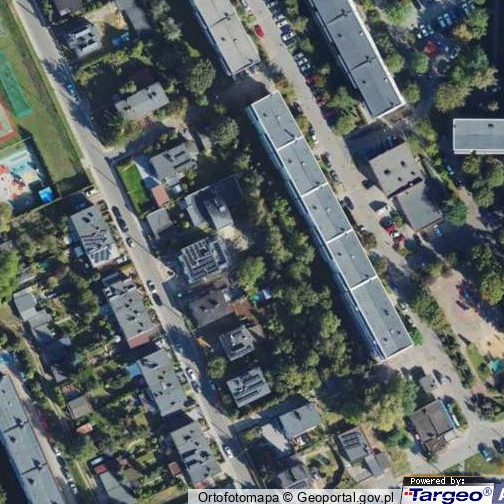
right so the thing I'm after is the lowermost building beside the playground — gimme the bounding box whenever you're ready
[71,203,120,267]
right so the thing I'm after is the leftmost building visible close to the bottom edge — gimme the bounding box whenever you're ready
[0,376,67,504]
